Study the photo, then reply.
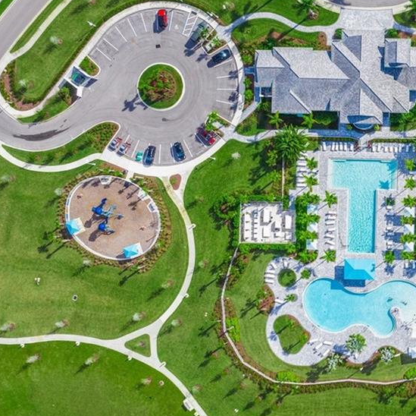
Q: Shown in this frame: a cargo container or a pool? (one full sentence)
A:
This aerial view contains a pool.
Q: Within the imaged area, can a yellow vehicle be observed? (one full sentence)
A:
No, no yellow vehicle is visible in the view.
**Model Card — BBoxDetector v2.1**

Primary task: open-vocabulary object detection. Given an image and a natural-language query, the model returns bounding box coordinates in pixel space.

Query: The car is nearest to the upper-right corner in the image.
[212,49,232,62]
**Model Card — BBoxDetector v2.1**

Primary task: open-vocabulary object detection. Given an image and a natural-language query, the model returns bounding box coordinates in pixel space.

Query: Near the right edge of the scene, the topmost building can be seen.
[252,26,416,132]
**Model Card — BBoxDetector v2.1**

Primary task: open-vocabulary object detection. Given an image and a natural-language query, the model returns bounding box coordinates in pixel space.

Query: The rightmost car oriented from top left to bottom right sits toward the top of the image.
[199,129,218,146]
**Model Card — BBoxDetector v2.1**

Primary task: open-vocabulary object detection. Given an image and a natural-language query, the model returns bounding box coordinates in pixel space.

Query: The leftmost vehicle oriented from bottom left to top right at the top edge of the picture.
[190,19,209,41]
